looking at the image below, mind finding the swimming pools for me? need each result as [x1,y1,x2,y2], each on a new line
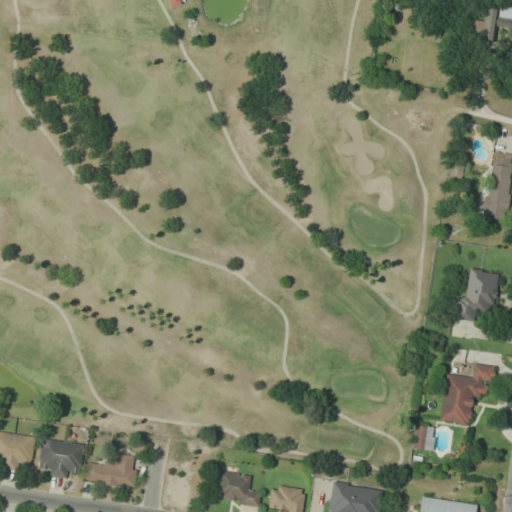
[436,426,454,458]
[472,134,492,166]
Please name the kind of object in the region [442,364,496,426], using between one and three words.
house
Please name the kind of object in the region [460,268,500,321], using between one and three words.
house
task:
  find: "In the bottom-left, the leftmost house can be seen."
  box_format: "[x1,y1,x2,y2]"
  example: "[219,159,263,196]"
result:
[0,432,36,471]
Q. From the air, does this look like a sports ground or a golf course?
golf course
